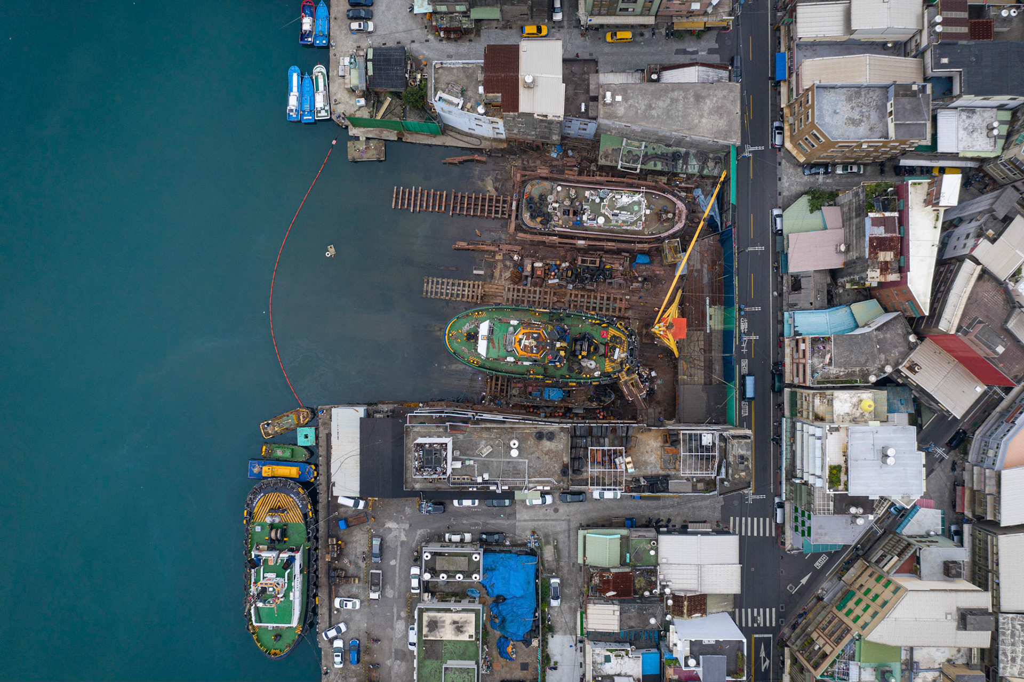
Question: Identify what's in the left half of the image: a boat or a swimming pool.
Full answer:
The one visible in the left half of the image is a boat.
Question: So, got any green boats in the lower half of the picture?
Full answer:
Yes, looking in the lower half of the picture, one can make out a green boat.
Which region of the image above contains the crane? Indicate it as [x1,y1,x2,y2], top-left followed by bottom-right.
[649,167,729,360]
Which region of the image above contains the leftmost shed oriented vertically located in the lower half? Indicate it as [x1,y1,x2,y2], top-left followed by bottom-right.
[330,405,368,498]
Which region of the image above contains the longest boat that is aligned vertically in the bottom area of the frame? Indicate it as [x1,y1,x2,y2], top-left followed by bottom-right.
[242,475,319,662]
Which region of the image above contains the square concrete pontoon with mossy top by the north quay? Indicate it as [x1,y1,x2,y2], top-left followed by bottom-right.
[348,137,386,162]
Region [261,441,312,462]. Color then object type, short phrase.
green boat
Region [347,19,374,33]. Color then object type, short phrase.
white car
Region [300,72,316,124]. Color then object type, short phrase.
blue boat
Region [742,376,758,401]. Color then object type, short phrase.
blue vehicle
